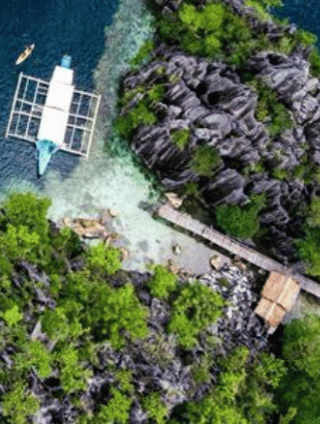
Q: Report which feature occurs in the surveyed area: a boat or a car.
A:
boat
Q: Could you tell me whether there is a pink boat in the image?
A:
No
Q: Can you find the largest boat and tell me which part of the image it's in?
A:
top left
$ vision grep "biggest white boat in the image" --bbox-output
[5,55,100,175]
